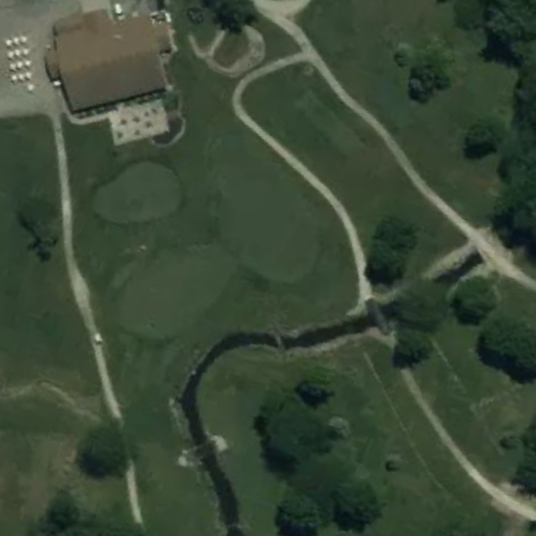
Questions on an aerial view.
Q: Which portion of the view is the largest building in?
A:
top left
